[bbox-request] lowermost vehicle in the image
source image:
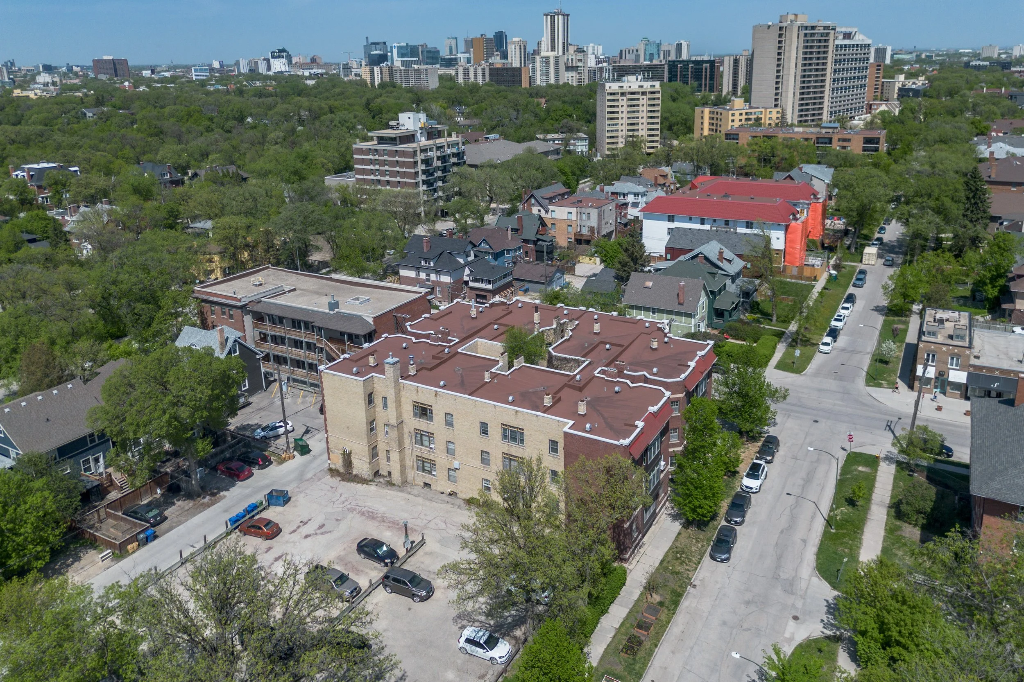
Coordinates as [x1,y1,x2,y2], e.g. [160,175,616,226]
[457,624,514,664]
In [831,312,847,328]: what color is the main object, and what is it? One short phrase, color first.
white car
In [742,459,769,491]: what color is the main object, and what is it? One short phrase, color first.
white car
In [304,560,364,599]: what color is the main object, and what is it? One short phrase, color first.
gray truck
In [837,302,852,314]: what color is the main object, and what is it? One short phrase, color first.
white vehicle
